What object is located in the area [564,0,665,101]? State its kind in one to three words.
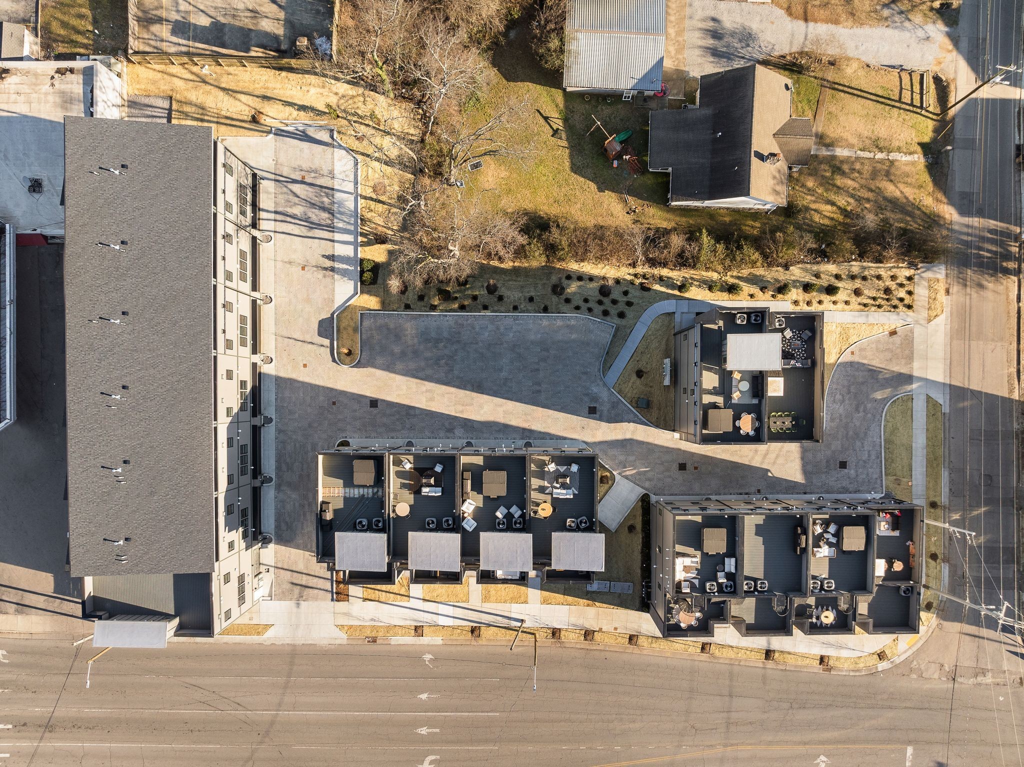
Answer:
building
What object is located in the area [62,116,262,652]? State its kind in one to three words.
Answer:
building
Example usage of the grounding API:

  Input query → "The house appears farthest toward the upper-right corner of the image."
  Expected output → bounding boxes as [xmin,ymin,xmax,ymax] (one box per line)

[647,64,814,209]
